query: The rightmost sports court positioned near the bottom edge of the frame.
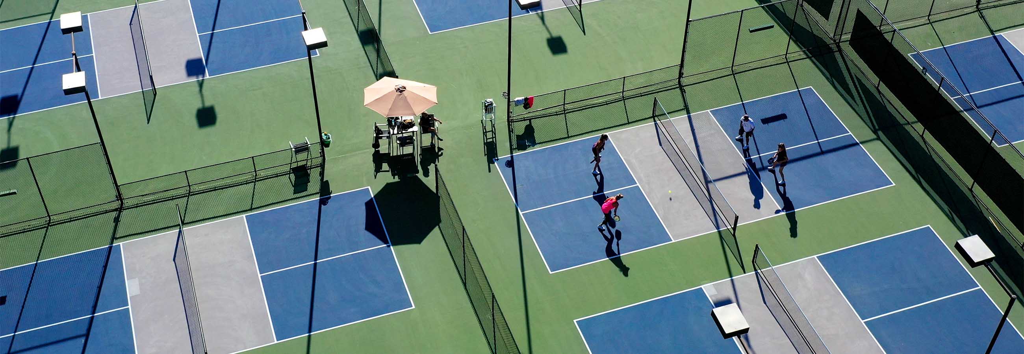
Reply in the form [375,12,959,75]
[575,226,1024,354]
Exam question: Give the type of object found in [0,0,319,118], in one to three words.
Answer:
sports court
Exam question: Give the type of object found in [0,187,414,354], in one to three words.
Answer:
sports court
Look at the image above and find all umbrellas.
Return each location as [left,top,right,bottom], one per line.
[364,77,438,121]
